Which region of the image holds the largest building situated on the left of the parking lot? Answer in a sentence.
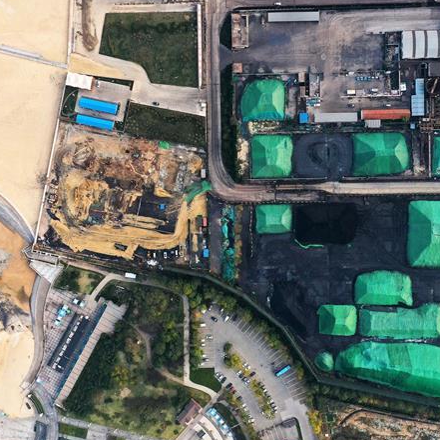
Look in the bottom left portion of the view to spot the largest building situated on the left of the parking lot.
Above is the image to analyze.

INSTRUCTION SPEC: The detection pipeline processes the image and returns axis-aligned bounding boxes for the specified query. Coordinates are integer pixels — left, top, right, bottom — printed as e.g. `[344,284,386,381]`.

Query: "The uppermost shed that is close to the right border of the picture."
[400,32,440,61]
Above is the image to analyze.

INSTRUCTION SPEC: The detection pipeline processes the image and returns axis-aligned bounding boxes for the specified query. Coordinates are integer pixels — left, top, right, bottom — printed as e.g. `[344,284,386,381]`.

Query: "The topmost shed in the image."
[268,11,320,24]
